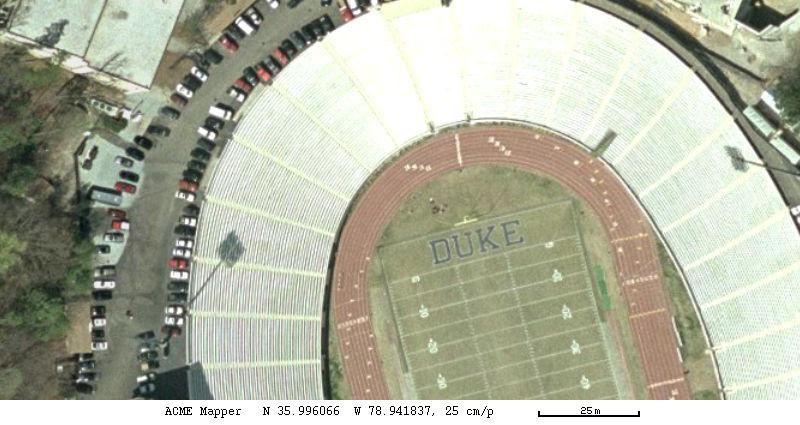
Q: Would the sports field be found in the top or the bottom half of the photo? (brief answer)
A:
bottom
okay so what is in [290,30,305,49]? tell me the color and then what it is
gray car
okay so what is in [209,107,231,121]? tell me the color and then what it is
white vehicle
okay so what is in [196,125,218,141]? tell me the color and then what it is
white vehicle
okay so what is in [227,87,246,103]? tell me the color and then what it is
white car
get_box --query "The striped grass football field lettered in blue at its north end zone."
[378,199,633,425]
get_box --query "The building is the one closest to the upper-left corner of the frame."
[0,0,184,90]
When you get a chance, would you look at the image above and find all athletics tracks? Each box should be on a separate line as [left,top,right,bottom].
[333,126,695,425]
